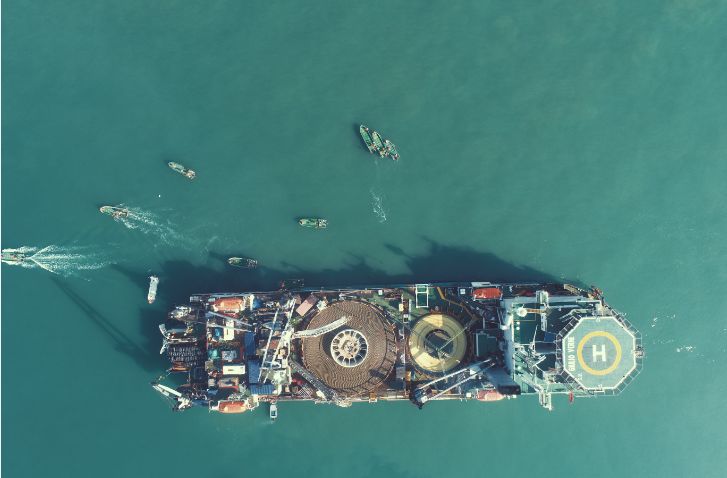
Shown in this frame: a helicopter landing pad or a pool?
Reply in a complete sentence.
The one in the frame is a helicopter landing pad.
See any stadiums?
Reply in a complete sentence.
No, I can see no stadium in this picture.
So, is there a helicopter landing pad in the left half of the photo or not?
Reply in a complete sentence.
No, the scene shows no helicopter landing pad in the left half of the photo.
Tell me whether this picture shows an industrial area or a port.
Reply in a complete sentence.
It's a port.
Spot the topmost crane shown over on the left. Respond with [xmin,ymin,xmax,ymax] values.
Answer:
[258,298,300,385]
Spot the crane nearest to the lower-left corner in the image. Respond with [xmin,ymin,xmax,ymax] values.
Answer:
[150,374,196,413]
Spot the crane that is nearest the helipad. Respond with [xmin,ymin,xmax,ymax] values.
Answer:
[410,352,504,406]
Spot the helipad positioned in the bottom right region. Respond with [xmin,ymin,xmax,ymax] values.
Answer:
[555,309,645,397]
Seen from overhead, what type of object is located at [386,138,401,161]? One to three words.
boat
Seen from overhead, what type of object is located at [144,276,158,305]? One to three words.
boat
